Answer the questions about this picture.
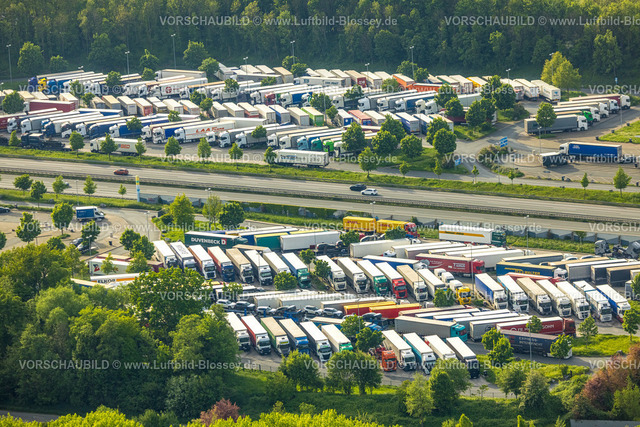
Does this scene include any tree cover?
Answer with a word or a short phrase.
Yes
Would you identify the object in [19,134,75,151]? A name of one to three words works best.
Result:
vehicle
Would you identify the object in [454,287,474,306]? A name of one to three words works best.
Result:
vehicle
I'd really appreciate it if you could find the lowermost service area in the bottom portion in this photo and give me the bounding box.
[0,199,640,391]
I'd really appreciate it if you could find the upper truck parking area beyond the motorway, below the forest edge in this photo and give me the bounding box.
[0,78,640,191]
